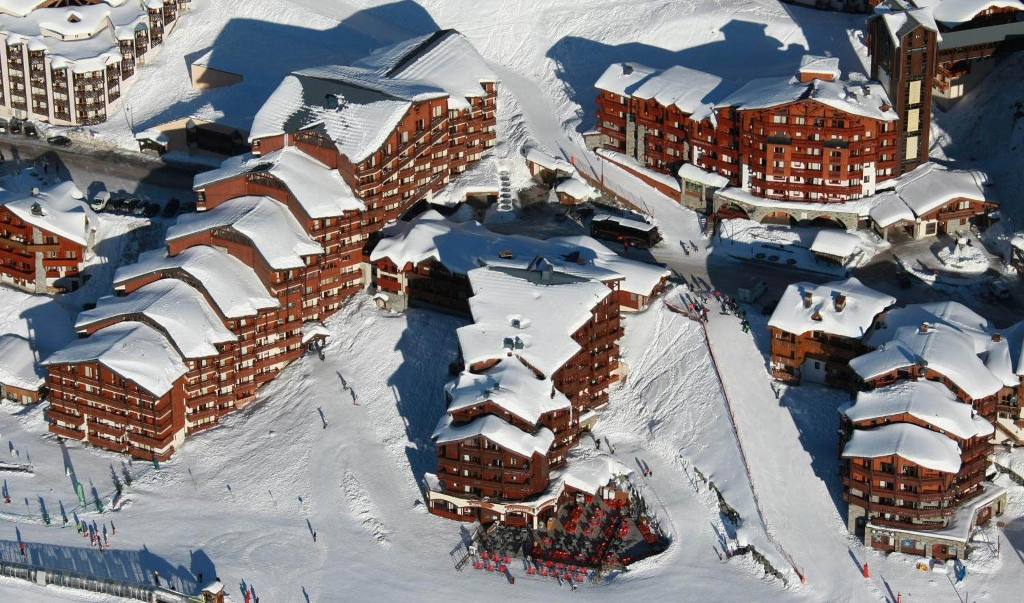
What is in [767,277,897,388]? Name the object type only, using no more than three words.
house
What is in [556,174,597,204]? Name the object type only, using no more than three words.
shed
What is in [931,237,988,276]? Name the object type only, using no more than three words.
fountain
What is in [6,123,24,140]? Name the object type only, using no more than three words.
car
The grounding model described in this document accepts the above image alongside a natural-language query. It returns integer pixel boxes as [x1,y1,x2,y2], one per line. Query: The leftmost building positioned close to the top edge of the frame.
[0,0,187,131]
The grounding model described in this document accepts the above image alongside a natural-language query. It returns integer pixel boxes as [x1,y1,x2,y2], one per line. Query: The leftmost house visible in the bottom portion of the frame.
[0,332,45,423]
